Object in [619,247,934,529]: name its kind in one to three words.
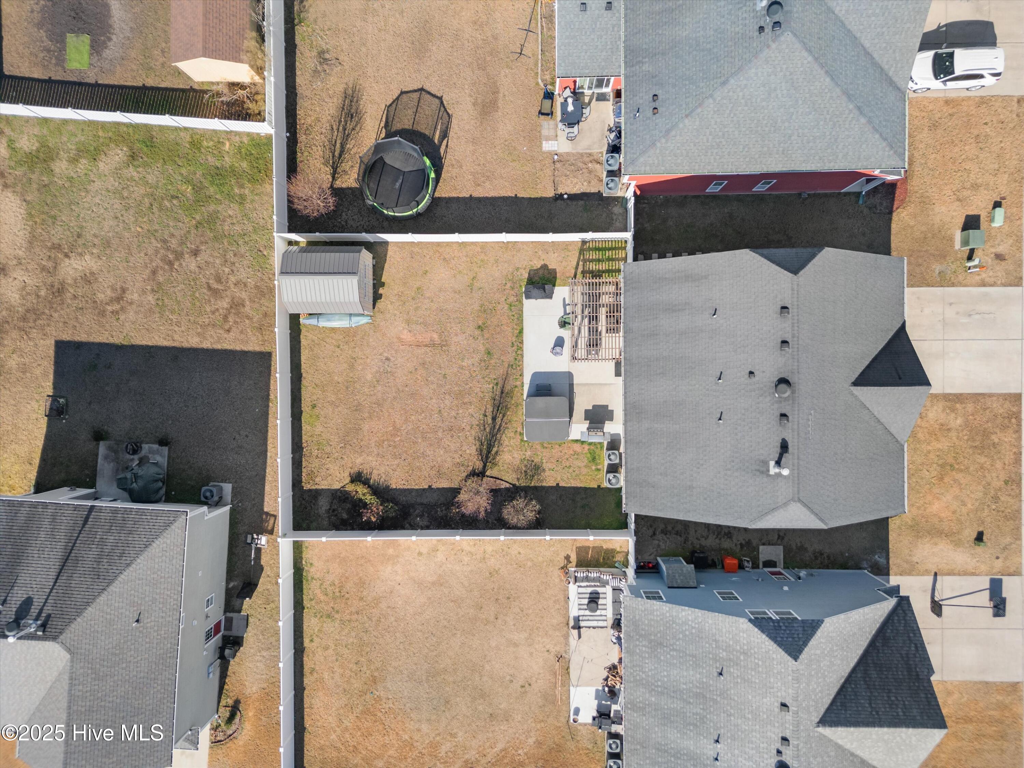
house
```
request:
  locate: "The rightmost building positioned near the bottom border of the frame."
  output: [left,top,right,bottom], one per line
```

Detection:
[619,557,949,768]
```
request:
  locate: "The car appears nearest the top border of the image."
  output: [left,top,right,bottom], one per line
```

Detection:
[909,42,1006,91]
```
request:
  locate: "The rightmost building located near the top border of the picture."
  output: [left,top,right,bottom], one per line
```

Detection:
[619,0,934,207]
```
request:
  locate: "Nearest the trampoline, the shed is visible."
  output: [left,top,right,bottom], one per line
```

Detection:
[279,245,377,315]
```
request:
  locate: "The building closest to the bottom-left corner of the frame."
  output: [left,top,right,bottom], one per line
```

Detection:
[0,470,231,768]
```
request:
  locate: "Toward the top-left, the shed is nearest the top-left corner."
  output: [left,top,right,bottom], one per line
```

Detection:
[171,0,261,82]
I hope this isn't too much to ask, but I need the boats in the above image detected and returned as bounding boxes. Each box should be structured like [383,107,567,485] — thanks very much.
[300,314,372,328]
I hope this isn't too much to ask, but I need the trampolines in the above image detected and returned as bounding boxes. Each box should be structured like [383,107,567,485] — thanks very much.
[356,135,436,220]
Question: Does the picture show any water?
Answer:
No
